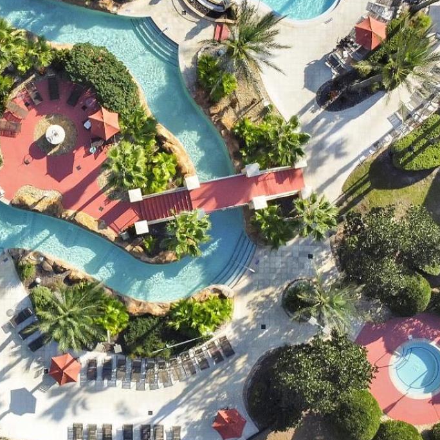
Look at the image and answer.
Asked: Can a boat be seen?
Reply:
No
